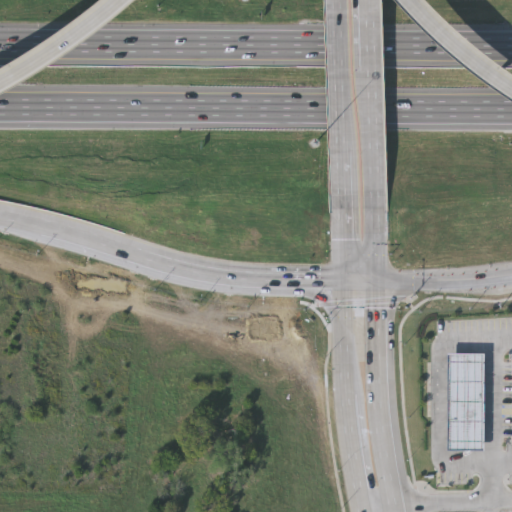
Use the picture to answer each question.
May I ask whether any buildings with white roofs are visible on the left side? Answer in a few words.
No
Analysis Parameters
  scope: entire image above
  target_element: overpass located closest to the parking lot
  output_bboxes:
[324,0,388,212]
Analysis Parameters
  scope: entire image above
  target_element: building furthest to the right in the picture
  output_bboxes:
[447,354,486,450]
